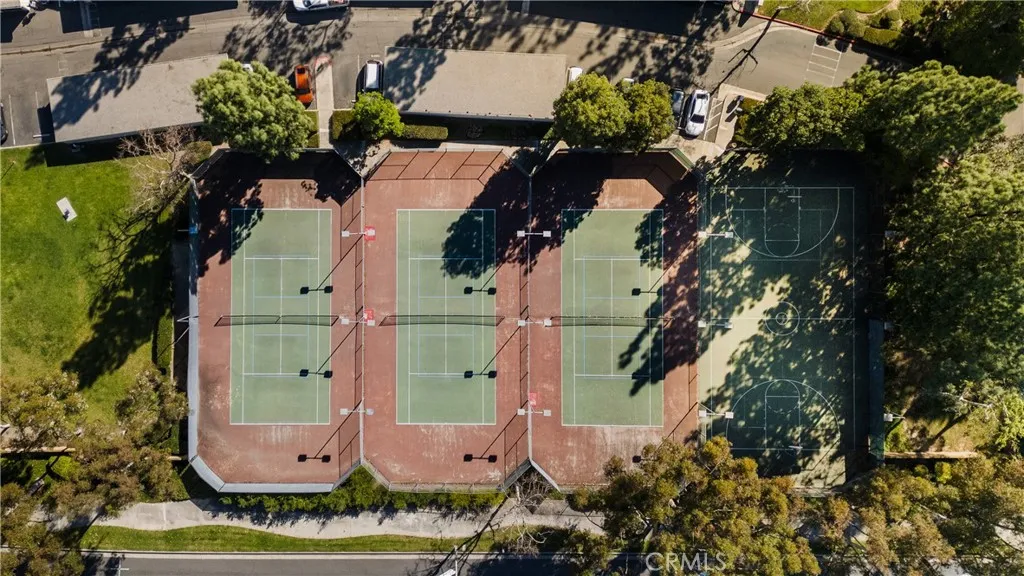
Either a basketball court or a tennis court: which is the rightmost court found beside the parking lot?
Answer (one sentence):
The rightmost court found beside the parking lot in the image is a basketball court.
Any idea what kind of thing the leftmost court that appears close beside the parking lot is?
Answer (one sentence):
What you see as the leftmost court that appears close beside the parking lot is a tennis court.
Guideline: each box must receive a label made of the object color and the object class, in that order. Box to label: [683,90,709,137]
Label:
white car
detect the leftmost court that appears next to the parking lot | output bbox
[198,154,367,485]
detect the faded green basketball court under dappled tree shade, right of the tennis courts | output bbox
[697,153,870,487]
